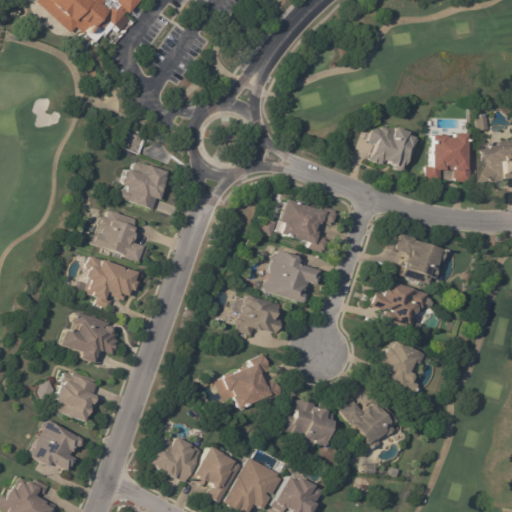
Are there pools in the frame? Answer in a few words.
Yes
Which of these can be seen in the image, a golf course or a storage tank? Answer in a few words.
golf course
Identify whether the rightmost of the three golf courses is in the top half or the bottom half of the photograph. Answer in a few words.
bottom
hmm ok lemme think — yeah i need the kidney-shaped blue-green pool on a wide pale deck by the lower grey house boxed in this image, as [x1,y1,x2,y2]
[378,444,400,461]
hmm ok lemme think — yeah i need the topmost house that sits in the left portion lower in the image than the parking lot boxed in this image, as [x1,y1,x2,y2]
[117,161,168,210]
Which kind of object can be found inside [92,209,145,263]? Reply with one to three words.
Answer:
house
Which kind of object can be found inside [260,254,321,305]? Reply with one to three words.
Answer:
house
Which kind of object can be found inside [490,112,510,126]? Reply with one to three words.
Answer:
swimming pool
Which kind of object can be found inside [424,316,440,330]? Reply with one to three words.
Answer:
swimming pool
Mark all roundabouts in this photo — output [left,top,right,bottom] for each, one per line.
[190,80,288,210]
